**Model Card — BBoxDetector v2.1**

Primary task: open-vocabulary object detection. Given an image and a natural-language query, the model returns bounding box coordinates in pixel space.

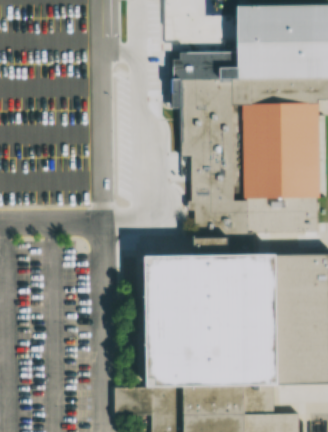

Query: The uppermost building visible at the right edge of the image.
[237,4,328,78]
